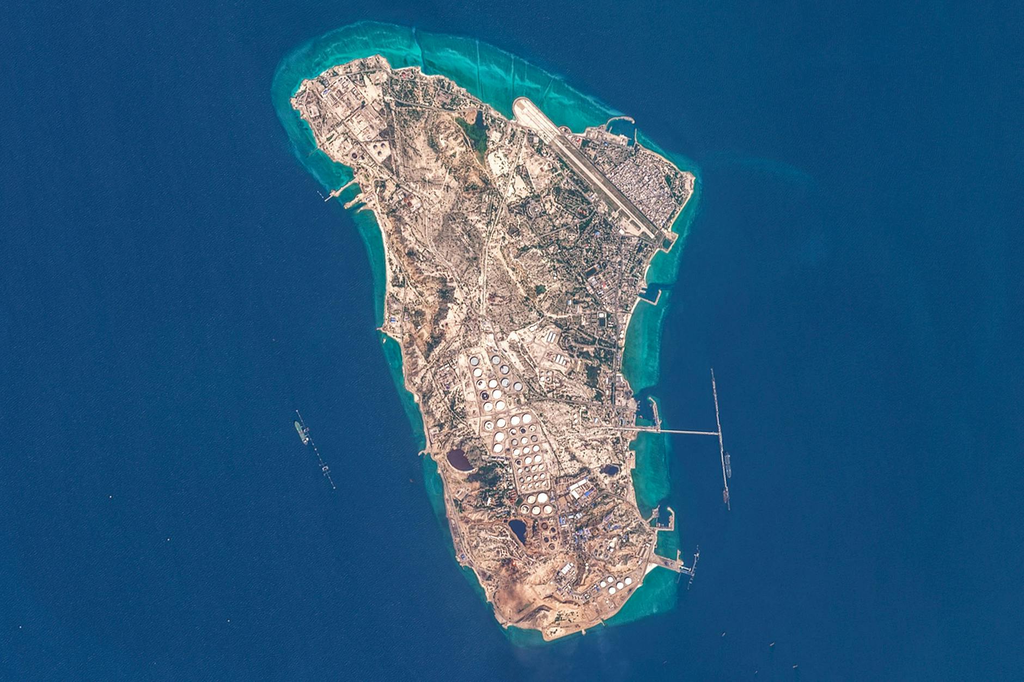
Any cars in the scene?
No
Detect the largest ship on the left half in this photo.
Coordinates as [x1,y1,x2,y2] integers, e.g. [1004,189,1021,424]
[295,422,307,445]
